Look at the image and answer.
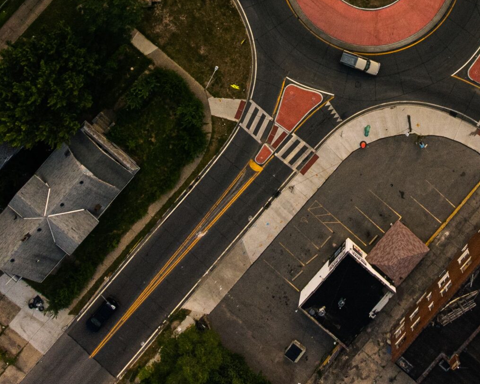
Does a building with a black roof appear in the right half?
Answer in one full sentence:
Yes, looking in the right half, one can make out a building with a black roof.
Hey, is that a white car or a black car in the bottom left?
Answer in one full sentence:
The feature located in the bottom left is a black car.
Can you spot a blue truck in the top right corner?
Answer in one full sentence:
No, no blue truck can be made out in the top right corner.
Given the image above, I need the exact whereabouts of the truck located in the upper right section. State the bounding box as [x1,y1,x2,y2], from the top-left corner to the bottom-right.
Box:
[338,47,382,76]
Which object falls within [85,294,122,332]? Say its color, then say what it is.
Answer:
black car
